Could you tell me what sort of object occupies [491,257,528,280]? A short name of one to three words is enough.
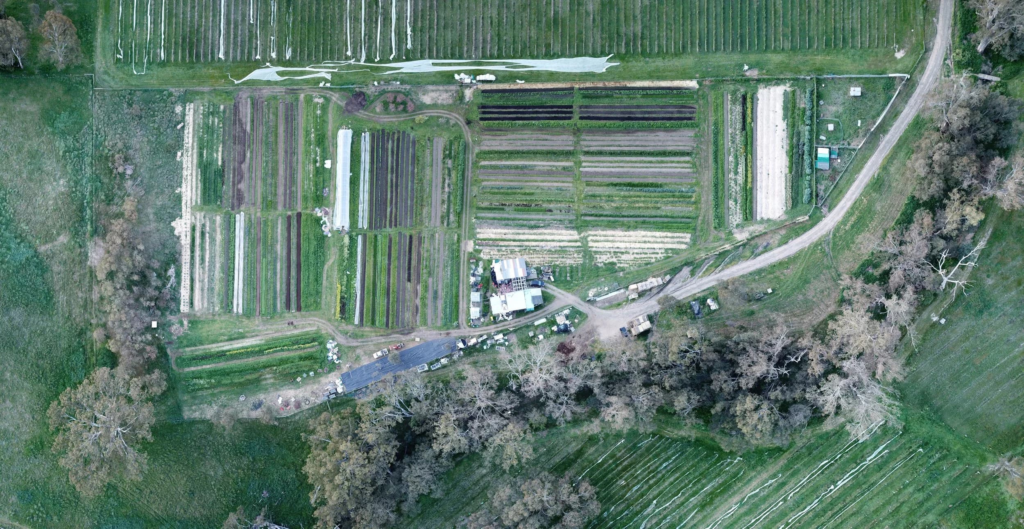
shed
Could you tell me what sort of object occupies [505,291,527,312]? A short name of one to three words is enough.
shed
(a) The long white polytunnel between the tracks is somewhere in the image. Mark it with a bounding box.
[334,129,352,229]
